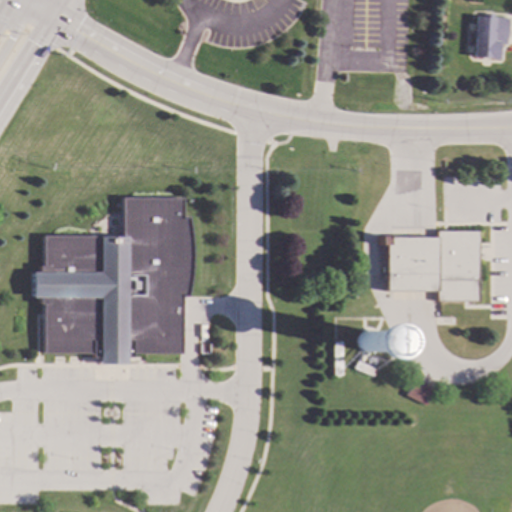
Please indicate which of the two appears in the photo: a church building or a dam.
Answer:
church building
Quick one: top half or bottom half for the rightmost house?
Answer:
top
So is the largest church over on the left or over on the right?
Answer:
left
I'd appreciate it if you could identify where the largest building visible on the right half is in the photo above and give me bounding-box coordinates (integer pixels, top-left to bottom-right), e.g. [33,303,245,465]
[381,231,482,302]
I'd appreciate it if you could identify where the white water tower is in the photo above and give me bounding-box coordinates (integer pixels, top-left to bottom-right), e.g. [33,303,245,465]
[357,324,422,362]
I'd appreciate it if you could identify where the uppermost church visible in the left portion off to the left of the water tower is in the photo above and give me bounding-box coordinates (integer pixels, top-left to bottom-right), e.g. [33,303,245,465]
[33,198,196,363]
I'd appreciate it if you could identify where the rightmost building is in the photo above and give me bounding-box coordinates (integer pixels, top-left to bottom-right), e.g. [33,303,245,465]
[476,13,509,58]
